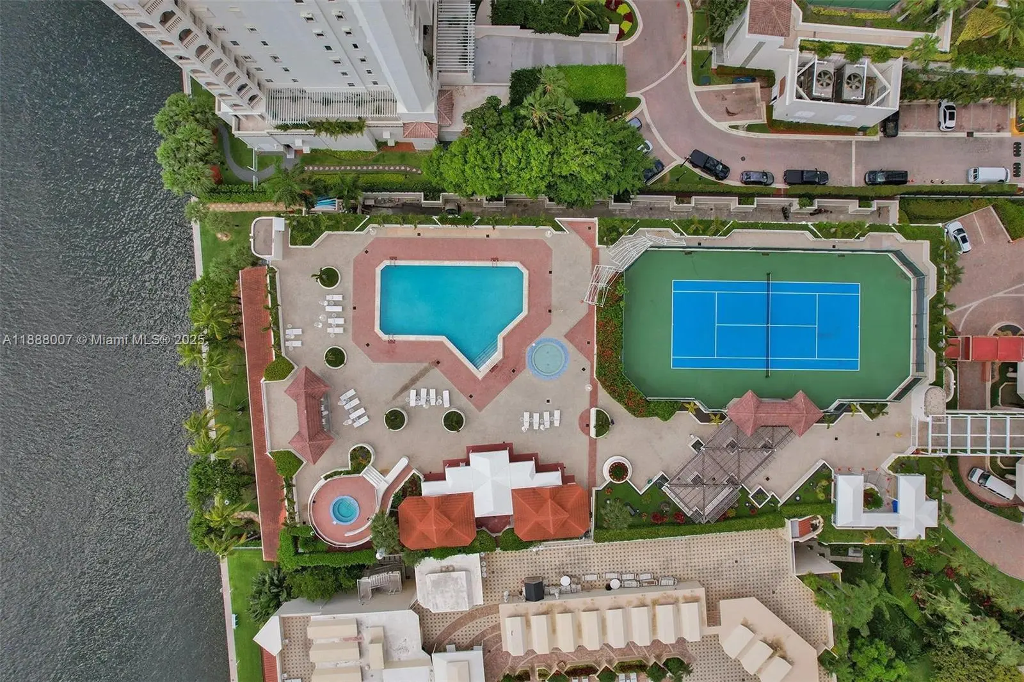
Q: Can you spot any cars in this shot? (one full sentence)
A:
Yes, you can see a car in this photo.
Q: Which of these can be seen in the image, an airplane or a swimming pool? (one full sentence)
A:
Looking from above, you can make out a swimming pool.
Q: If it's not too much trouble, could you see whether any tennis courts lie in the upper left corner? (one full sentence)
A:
No, no tennis court can be made out in the upper left corner.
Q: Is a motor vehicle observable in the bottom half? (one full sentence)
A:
Yes, a motor vehicle shows up in the bottom half.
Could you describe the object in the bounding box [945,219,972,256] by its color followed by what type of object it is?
white car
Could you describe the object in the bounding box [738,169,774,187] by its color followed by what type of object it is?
gray car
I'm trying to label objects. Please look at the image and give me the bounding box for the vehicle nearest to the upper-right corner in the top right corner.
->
[936,102,957,134]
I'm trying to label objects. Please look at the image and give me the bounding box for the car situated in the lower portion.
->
[966,466,1014,501]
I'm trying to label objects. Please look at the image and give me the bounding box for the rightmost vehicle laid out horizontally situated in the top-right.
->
[962,165,1013,185]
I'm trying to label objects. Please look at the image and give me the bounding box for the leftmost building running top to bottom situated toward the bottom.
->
[284,367,334,465]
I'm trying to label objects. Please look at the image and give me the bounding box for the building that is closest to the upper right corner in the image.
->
[724,0,796,125]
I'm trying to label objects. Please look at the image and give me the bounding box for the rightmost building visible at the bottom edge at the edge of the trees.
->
[712,589,818,682]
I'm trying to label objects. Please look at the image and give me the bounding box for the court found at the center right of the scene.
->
[623,249,909,410]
